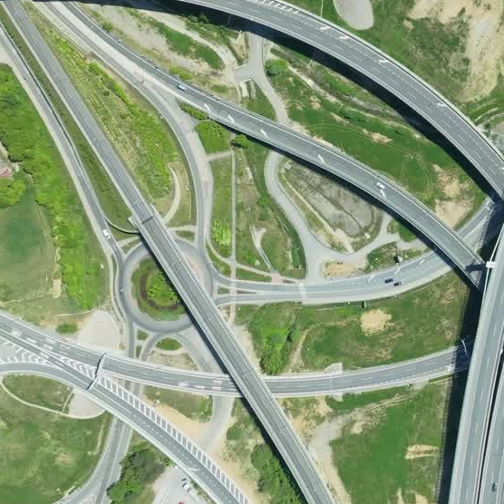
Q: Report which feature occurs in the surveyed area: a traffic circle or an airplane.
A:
traffic circle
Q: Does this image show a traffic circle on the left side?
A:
Yes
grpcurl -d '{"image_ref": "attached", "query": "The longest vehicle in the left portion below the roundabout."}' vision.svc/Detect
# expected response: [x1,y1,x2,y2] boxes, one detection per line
[181,481,195,496]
